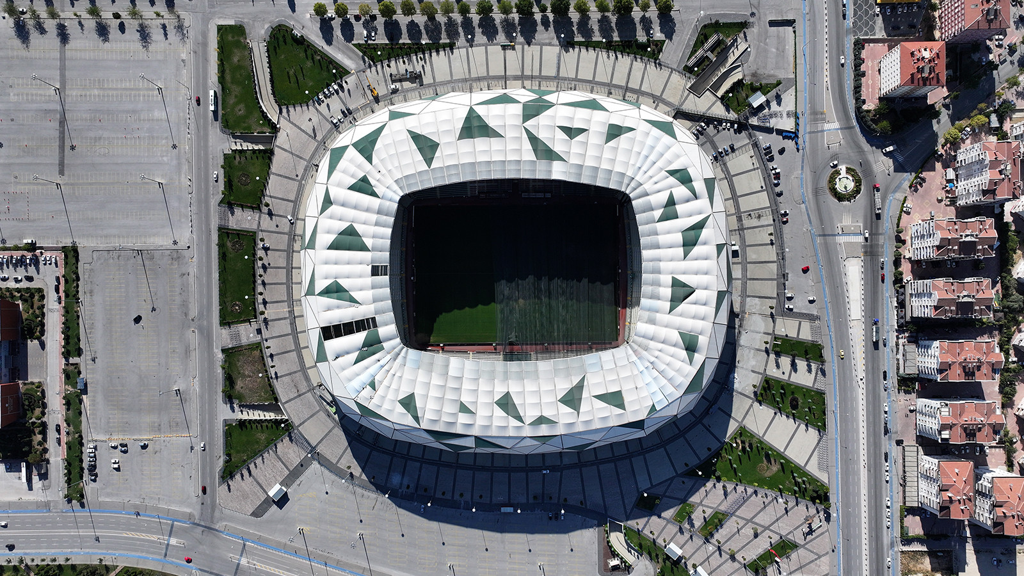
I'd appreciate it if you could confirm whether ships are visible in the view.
No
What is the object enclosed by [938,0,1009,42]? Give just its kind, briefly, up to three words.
building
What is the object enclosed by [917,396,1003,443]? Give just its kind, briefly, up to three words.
building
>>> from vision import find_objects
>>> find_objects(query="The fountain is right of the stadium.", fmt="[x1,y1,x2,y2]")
[837,175,855,194]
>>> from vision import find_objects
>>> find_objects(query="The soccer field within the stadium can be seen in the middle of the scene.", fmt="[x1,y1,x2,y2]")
[407,196,627,352]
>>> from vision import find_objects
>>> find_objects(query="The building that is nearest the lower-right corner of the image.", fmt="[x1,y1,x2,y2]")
[970,469,1024,535]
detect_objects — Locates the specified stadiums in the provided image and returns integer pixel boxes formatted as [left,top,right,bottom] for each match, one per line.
[300,88,733,455]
